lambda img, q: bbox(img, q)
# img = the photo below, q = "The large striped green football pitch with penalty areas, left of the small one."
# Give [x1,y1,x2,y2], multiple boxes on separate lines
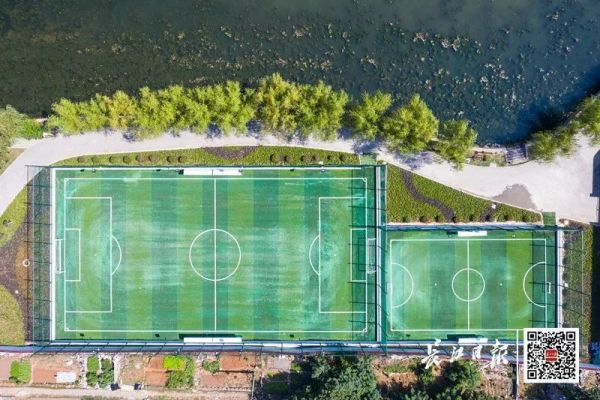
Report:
[55,165,377,341]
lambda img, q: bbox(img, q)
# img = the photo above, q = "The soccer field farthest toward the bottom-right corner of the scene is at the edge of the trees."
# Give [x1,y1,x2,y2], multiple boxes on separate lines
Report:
[381,230,557,341]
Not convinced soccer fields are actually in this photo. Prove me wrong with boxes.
[381,230,557,341]
[55,165,377,341]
